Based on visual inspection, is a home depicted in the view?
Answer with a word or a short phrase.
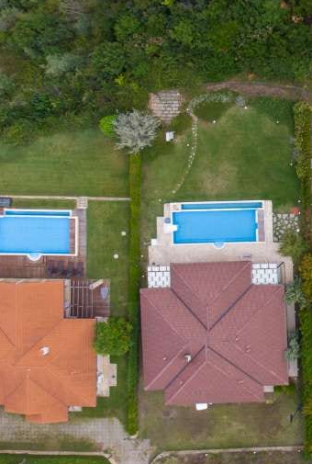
Yes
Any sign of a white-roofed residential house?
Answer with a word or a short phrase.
No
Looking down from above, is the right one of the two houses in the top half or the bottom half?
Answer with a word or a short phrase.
bottom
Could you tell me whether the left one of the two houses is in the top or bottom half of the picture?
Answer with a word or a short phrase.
bottom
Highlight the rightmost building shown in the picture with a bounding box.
[140,260,290,412]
